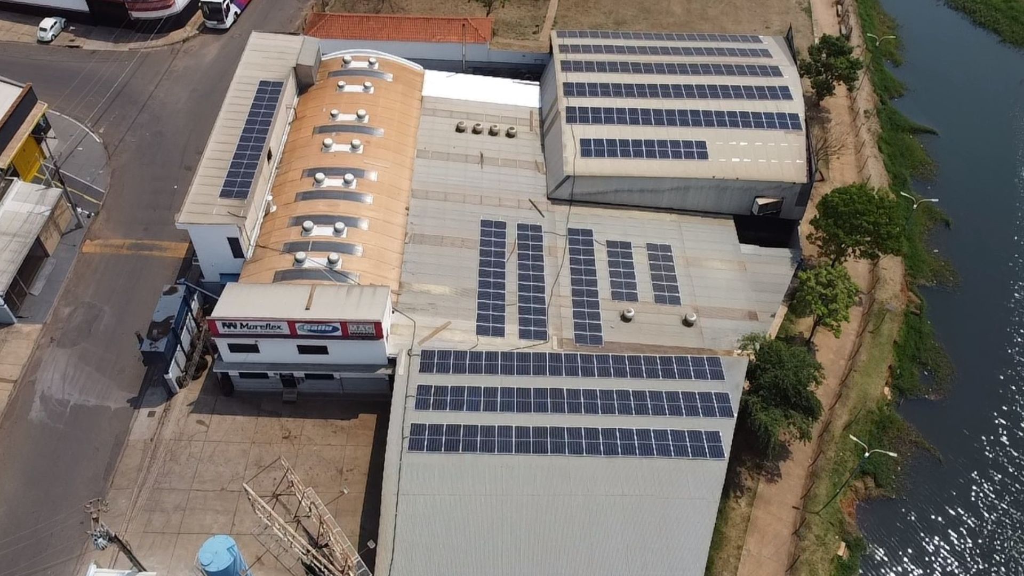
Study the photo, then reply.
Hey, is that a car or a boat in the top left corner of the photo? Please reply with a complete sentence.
What appears in the top left corner of the photo is a car.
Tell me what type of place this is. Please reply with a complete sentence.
What you see here is an industrial area.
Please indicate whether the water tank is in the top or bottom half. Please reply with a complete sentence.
The bottom half of the photo is where the water tank is.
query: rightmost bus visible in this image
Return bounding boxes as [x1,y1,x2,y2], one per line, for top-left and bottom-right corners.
[197,0,247,27]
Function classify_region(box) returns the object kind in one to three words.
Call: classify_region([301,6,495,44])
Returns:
building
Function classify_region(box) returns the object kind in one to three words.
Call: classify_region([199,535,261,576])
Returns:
water tank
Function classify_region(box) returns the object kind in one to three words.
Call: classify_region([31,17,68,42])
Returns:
car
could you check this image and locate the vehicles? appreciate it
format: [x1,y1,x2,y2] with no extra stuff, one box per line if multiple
[31,17,68,42]
[197,0,247,27]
